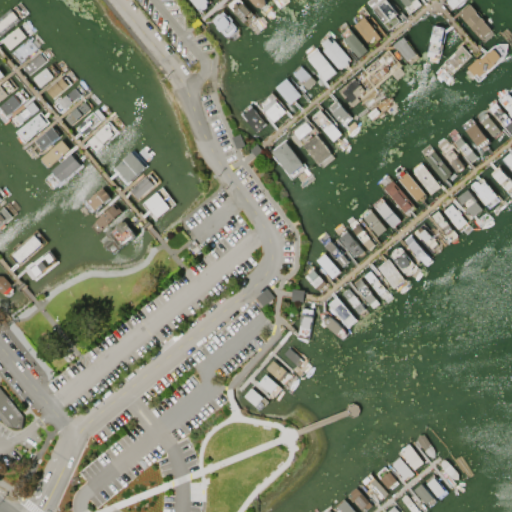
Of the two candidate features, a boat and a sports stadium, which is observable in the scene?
boat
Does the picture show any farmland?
No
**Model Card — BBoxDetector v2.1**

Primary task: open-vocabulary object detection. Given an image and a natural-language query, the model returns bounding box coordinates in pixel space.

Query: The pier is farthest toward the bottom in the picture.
[372,444,458,512]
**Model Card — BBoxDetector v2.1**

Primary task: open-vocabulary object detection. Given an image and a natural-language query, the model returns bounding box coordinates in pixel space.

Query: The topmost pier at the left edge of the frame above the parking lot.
[0,46,150,242]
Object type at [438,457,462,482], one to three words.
boat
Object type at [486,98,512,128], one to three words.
boat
